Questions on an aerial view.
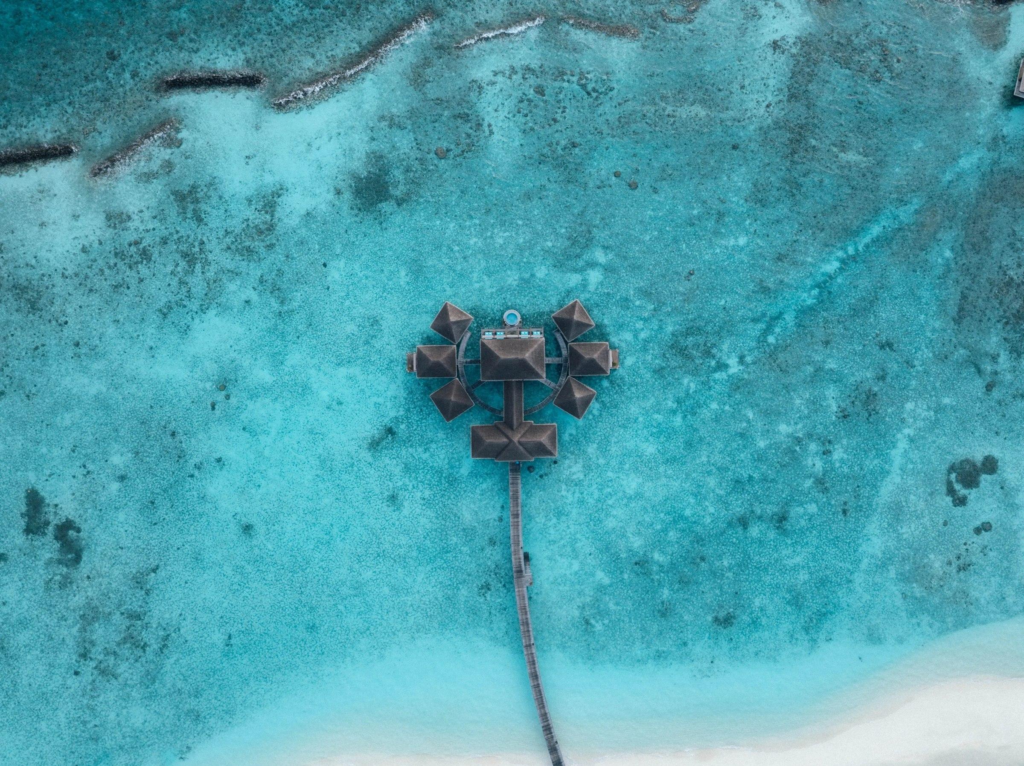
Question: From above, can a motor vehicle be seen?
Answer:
No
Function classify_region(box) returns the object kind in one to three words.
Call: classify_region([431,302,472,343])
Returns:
shed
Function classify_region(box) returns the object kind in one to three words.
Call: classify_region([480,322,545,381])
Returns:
building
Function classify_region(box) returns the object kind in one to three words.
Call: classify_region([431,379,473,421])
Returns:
shed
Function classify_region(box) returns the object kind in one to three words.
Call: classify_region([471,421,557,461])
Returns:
building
